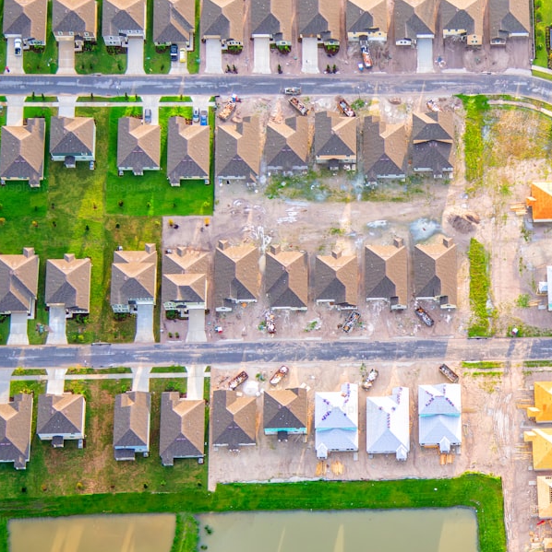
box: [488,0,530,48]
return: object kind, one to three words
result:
house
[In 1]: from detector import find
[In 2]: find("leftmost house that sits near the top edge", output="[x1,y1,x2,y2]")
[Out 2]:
[2,0,49,49]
